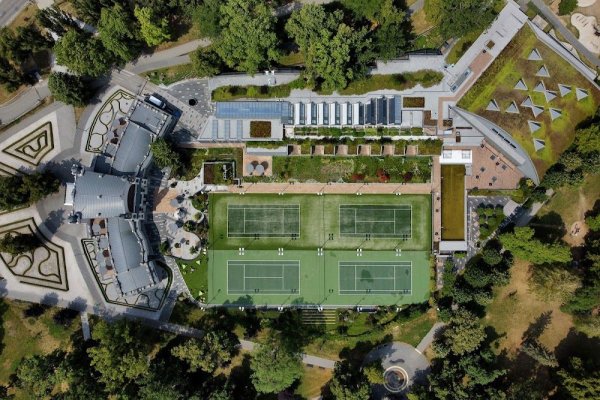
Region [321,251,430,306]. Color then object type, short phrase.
green tennis court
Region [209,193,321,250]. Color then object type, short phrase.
green tennis court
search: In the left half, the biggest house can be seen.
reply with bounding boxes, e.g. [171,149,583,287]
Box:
[62,100,180,295]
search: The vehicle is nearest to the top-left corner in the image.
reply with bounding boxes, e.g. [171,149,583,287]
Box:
[148,95,168,111]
